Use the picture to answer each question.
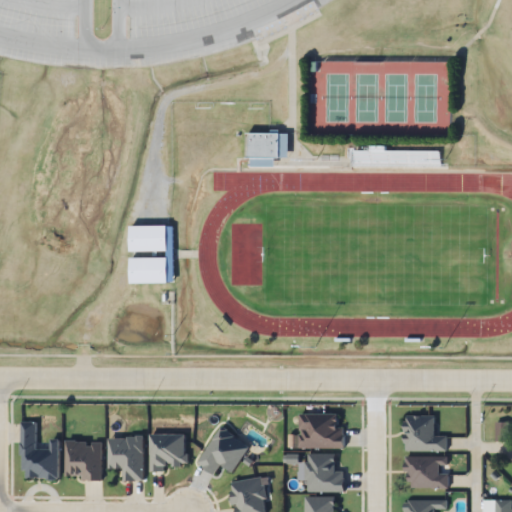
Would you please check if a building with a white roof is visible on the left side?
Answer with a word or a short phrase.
Yes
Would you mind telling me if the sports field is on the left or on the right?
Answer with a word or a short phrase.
right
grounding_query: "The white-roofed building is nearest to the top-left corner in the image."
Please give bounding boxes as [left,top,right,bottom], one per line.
[128,226,166,252]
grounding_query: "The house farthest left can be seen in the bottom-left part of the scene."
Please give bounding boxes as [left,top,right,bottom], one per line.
[20,422,59,480]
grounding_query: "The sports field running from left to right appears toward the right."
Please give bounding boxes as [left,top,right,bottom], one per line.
[220,194,512,316]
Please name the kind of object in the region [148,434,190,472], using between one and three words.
house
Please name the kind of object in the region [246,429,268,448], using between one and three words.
swimming pool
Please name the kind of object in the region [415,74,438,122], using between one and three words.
tennis court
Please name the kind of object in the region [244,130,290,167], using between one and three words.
building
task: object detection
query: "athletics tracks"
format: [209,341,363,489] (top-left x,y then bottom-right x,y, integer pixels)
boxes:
[198,172,512,338]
